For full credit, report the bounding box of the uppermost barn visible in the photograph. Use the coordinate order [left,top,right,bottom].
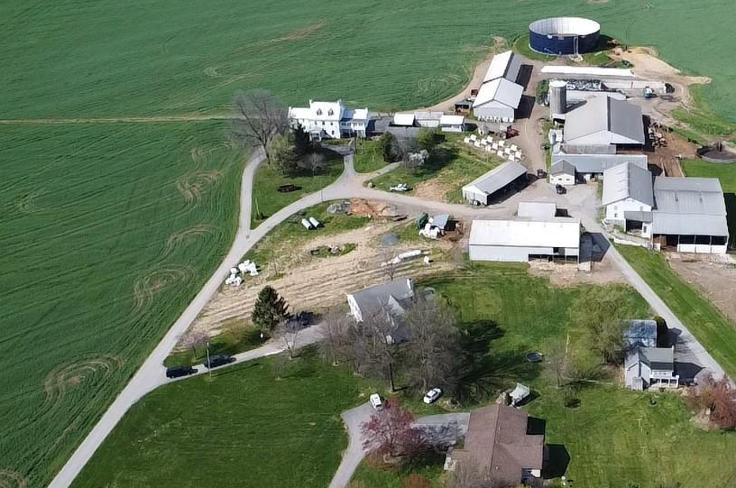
[481,50,525,86]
